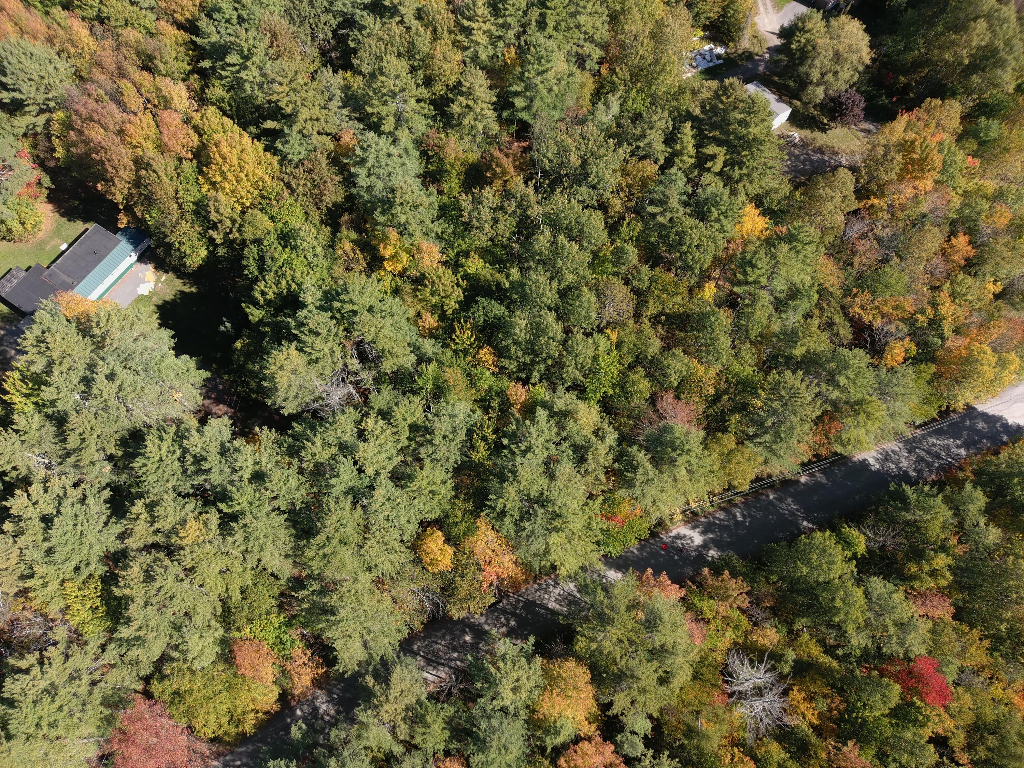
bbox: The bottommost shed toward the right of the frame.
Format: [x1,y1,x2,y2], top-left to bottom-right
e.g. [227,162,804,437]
[753,81,792,132]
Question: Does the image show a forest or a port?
forest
